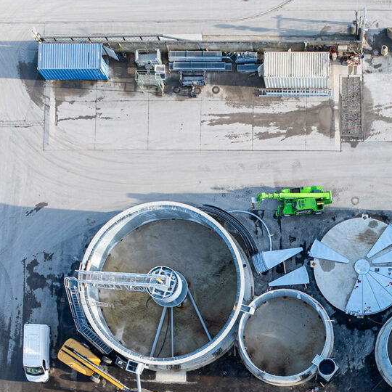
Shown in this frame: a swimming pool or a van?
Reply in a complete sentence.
I can see a van in this picture.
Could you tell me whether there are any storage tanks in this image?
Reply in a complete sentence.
Yes, a storage tank can be made out from above.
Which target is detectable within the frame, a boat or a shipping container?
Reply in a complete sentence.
I can see a shipping container in this picture.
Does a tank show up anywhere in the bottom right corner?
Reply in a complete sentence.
Yes, a tank can be seen in the bottom right corner.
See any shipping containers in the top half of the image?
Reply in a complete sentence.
Yes, in the top half of the image there is a shipping container.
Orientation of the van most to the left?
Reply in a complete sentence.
In this picture, the van most to the left is oriented from top to bottom.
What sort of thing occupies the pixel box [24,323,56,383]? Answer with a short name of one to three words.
van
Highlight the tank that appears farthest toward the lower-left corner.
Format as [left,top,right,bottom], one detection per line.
[59,200,252,392]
